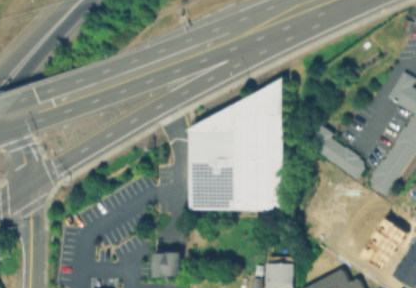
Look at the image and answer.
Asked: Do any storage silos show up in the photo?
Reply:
No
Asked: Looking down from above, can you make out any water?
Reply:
No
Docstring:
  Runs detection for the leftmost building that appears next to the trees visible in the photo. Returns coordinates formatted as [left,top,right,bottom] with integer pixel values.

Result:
[150,252,180,278]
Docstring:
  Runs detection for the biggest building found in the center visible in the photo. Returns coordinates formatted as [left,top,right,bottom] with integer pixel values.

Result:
[188,78,283,211]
